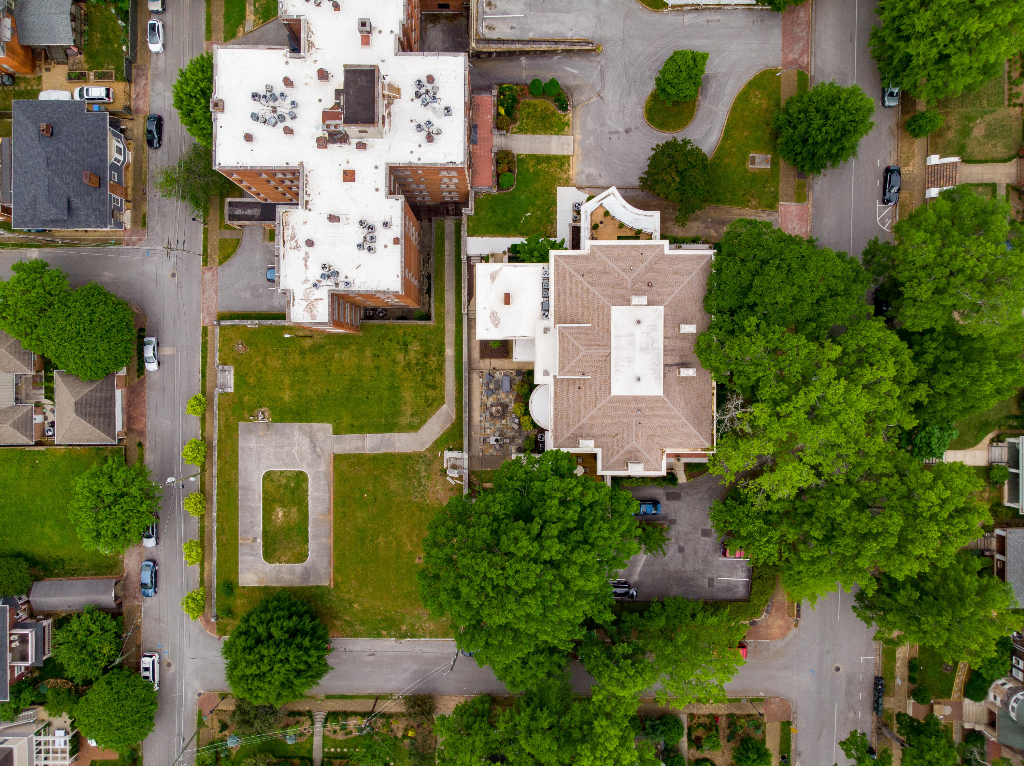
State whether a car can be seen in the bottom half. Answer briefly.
Yes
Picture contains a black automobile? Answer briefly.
Yes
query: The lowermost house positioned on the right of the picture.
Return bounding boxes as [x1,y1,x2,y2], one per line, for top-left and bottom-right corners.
[959,628,1024,751]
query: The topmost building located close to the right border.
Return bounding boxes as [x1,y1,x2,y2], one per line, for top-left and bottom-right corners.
[985,437,1024,514]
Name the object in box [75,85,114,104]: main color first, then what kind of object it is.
white car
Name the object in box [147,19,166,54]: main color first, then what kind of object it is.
white car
